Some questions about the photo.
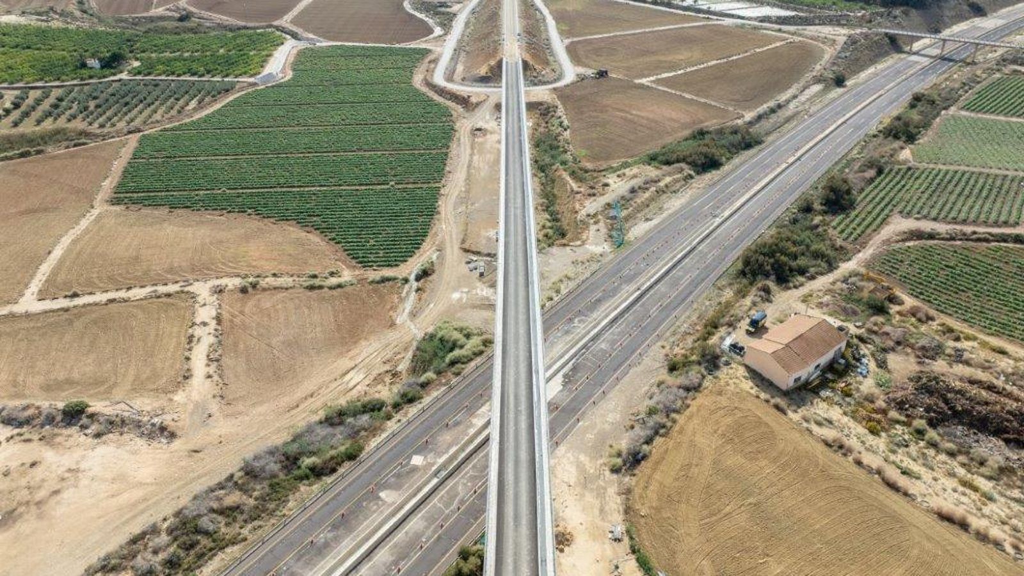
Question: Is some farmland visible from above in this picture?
Yes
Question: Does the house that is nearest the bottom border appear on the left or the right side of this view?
right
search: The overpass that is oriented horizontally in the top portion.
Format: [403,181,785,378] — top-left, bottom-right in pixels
[857,28,1024,59]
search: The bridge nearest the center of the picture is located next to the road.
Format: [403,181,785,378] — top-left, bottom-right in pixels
[484,59,557,576]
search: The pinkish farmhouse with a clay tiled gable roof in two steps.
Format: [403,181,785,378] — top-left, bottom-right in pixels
[743,314,851,391]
